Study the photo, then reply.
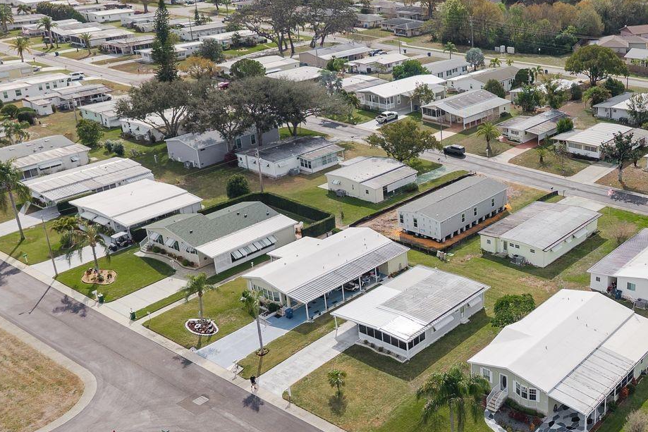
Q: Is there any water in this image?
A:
No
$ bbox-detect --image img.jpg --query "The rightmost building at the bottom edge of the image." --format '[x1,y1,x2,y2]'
[466,289,648,432]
